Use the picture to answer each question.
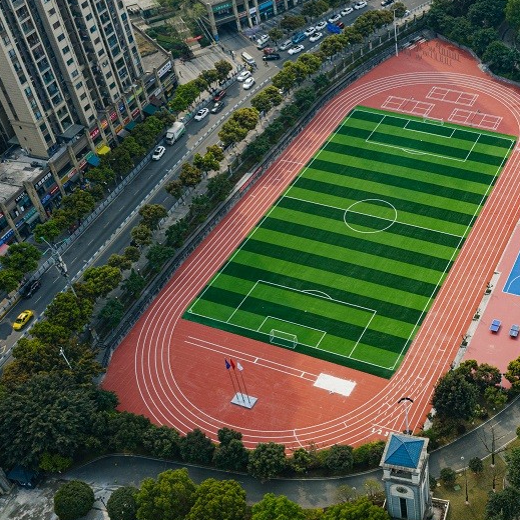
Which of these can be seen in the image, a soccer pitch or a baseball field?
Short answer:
soccer pitch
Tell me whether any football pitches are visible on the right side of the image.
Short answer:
Yes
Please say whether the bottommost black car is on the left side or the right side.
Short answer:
left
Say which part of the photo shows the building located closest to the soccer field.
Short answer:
bottom right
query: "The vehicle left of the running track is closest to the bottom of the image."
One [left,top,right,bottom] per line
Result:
[13,311,34,329]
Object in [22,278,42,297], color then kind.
black car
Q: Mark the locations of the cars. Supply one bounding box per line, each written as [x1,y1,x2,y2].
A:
[241,50,254,63]
[242,78,255,88]
[341,7,353,15]
[355,1,367,9]
[238,68,252,80]
[306,26,317,35]
[289,45,303,54]
[152,147,166,159]
[309,32,323,41]
[22,278,42,297]
[292,29,307,42]
[328,14,340,22]
[280,39,293,49]
[401,9,412,17]
[264,53,280,61]
[315,20,328,29]
[212,100,225,110]
[196,108,210,119]
[214,89,228,101]
[336,21,346,28]
[13,311,34,329]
